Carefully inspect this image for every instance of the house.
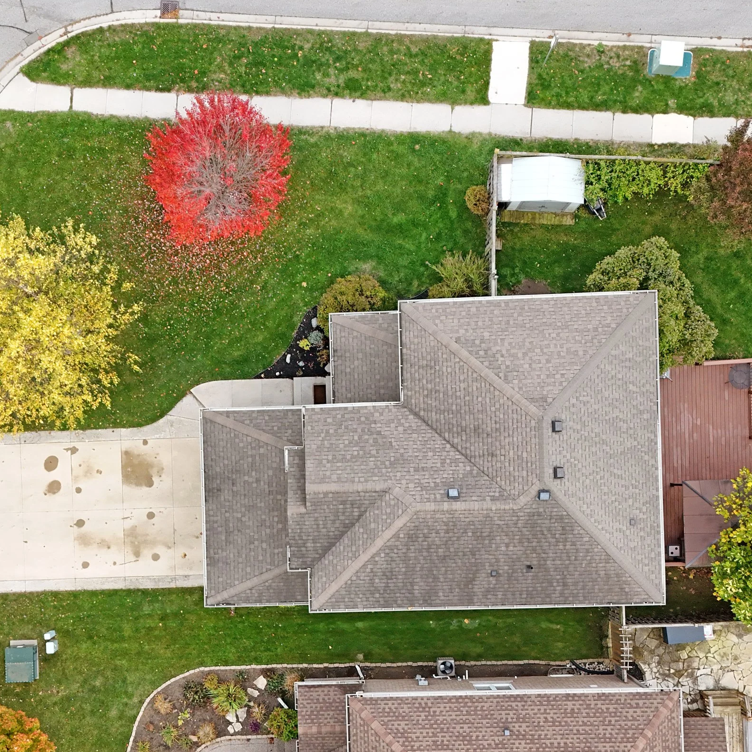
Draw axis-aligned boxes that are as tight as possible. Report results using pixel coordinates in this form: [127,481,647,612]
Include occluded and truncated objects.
[201,289,665,613]
[279,665,728,752]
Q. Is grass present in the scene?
Yes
